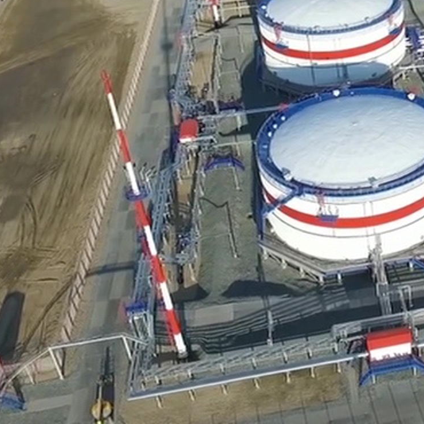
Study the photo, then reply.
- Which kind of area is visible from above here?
industrial area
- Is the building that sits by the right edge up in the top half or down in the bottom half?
bottom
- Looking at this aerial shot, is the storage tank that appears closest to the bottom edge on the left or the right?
right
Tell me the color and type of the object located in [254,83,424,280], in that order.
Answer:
white storage tank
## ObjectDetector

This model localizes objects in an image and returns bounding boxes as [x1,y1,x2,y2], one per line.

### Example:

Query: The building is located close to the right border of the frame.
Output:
[346,316,424,378]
